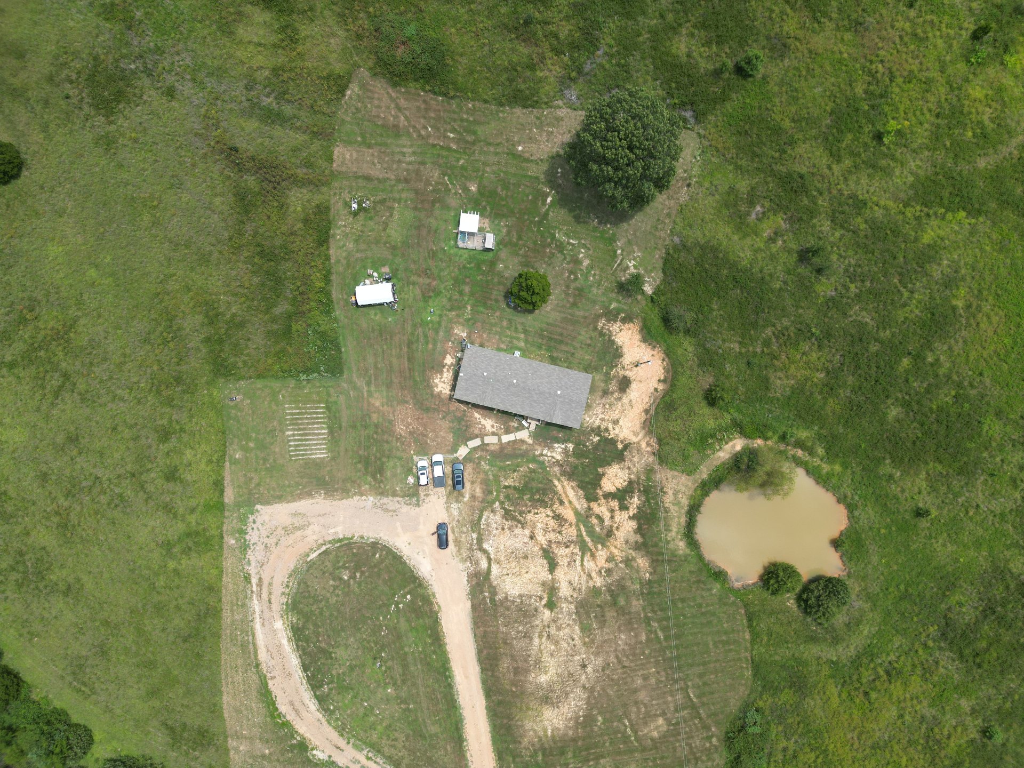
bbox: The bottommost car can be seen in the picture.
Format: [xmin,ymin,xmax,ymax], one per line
[432,522,449,549]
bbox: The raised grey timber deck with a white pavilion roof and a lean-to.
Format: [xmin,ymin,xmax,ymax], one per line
[452,210,495,253]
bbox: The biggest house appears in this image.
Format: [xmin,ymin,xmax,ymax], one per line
[453,345,592,428]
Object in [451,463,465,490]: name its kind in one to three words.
car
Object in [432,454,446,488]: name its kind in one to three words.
vehicle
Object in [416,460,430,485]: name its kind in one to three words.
car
